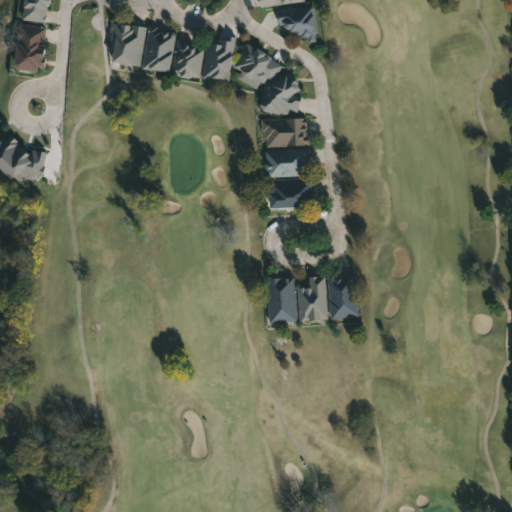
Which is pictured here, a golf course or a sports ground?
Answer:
golf course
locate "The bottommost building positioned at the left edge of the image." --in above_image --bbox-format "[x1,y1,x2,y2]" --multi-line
[0,136,49,180]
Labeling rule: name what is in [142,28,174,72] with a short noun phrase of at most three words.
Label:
house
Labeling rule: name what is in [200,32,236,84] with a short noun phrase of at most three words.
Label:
house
